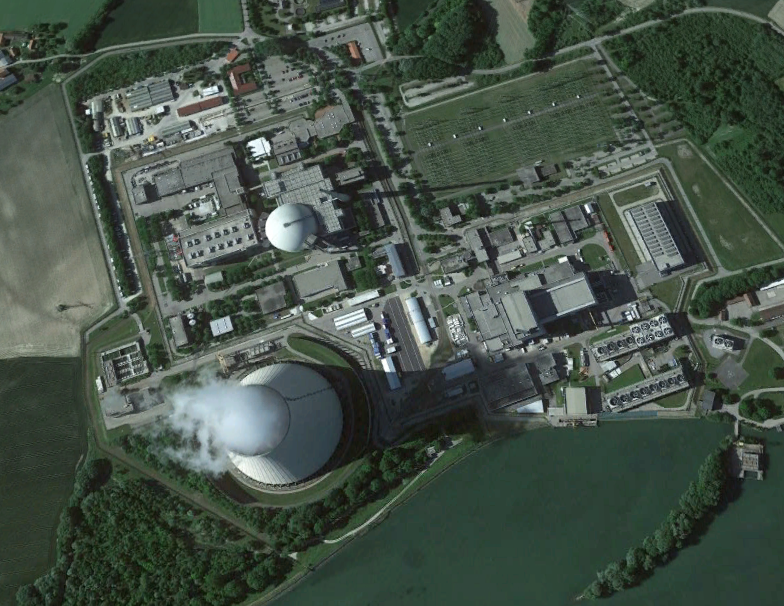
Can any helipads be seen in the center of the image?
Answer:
No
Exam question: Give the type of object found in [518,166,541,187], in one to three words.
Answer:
building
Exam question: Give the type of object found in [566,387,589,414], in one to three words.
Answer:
building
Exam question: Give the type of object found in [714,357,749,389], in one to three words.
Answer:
helipad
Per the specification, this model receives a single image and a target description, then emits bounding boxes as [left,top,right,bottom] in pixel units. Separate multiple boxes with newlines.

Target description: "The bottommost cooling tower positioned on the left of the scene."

[215,360,344,487]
